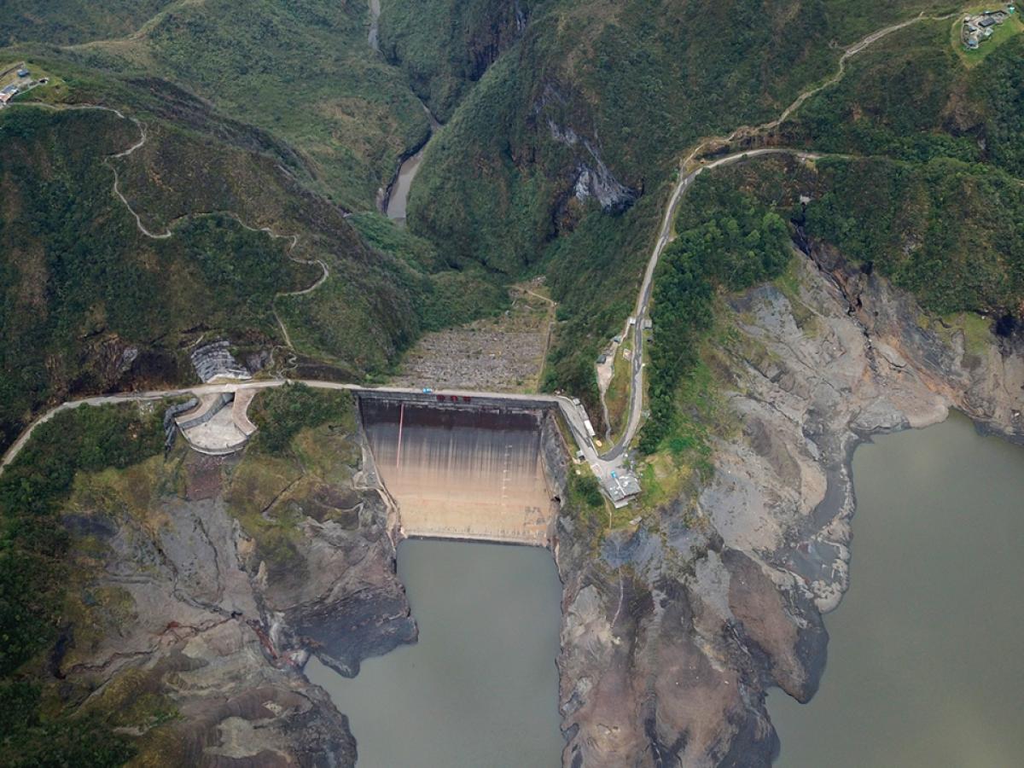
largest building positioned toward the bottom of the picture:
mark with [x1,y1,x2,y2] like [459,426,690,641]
[605,477,642,512]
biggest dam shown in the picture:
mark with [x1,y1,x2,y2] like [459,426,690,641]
[349,281,557,552]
